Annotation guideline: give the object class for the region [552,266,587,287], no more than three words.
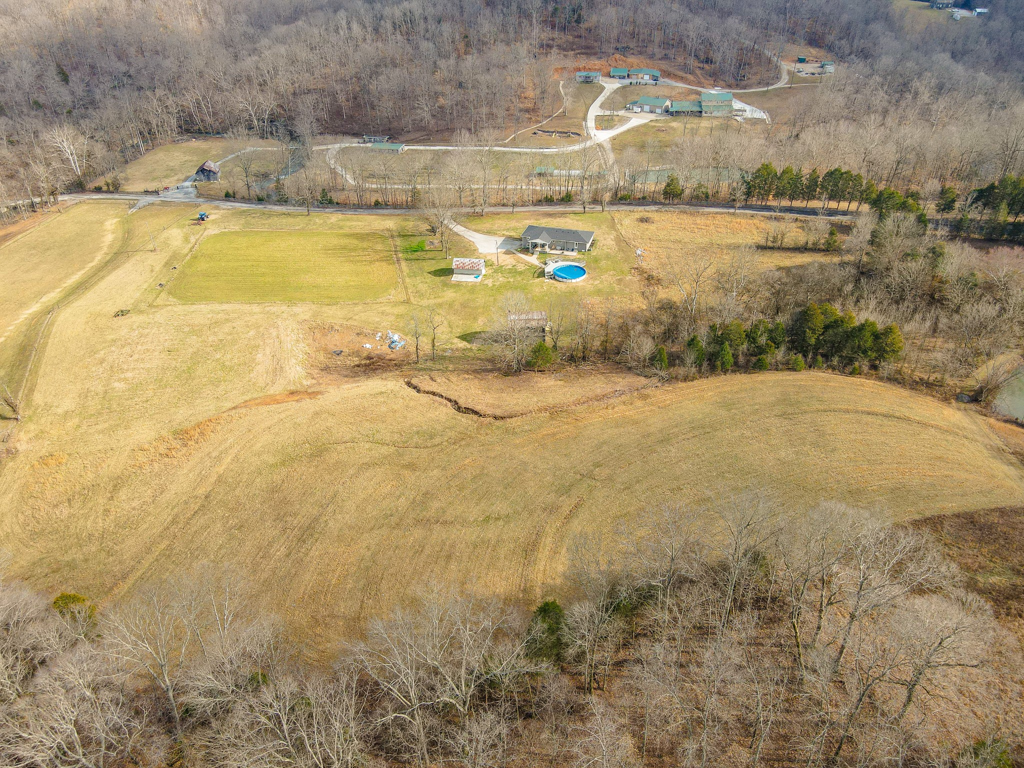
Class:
swimming pool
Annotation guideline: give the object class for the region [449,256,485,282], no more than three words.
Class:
shed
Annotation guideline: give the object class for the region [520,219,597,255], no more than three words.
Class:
house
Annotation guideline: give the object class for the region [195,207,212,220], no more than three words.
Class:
vehicle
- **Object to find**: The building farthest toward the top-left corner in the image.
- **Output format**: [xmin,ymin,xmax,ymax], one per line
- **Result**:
[190,157,222,182]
